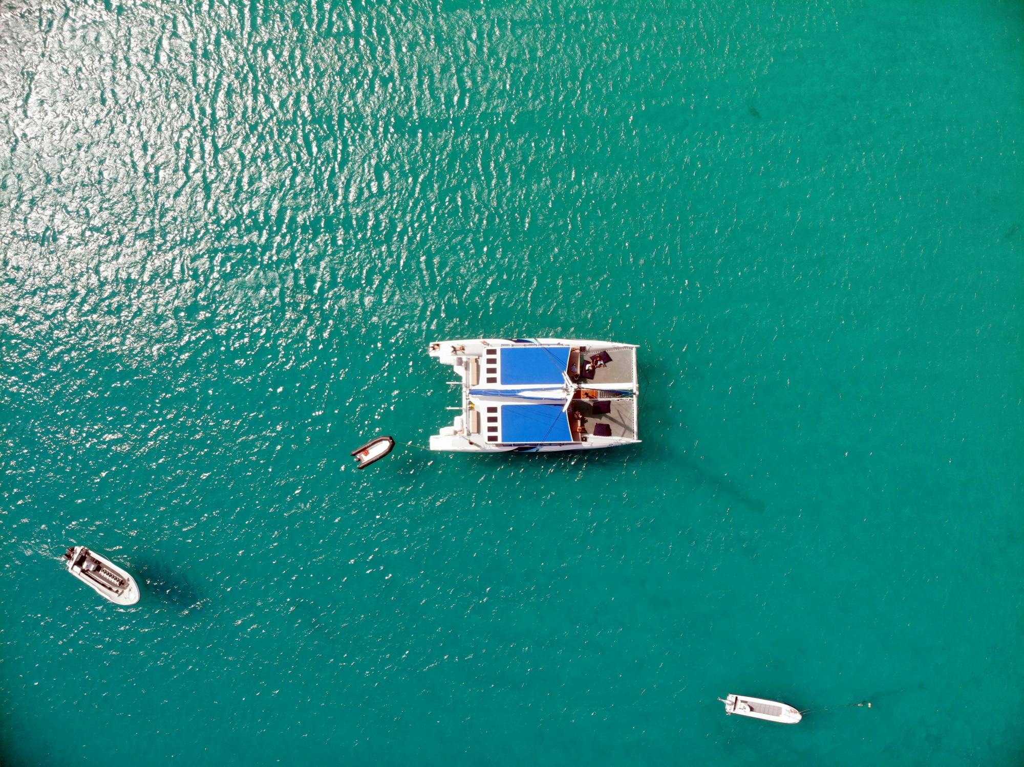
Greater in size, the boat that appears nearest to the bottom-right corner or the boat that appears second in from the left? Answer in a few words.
the boat that appears nearest to the bottom-right corner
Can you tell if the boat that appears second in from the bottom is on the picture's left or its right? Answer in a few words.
left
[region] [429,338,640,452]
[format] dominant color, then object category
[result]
white boat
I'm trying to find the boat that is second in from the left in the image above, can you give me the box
[350,436,395,468]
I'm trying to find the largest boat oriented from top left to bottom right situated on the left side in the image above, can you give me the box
[64,544,143,606]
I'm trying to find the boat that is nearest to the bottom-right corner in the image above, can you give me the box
[717,693,802,724]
